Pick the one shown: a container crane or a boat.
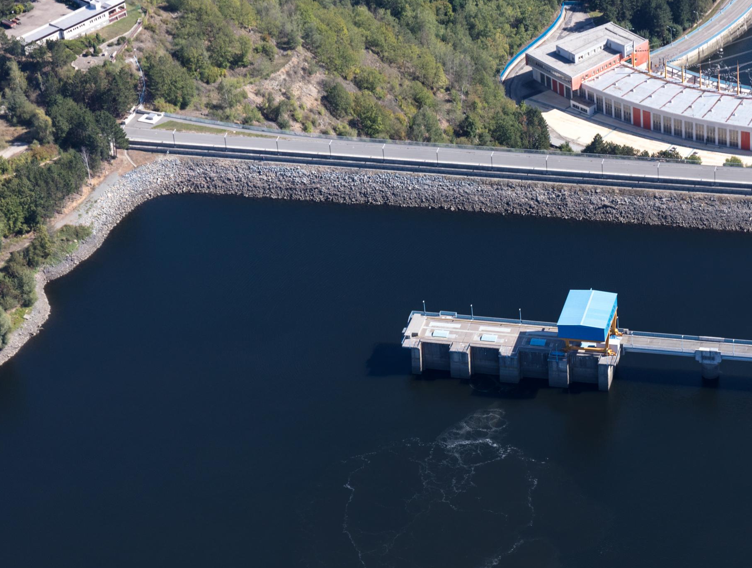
container crane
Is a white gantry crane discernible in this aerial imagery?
No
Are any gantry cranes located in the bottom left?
No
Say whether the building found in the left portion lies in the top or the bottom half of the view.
top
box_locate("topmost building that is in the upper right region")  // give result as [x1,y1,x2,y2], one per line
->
[525,21,649,96]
